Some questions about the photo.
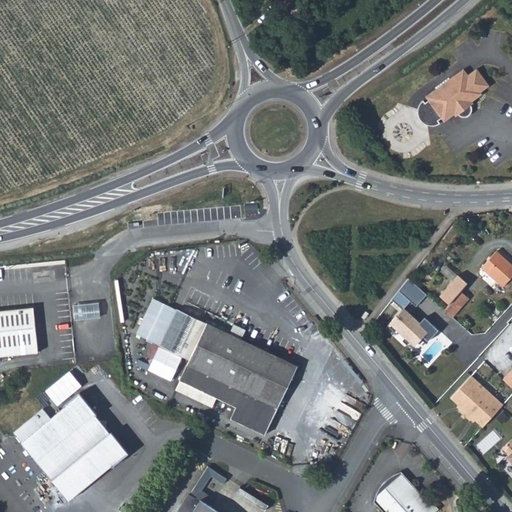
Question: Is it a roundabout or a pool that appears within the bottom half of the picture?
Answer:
pool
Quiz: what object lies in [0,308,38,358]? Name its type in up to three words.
building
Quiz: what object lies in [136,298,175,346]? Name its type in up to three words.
greenhouse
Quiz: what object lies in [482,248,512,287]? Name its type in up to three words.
house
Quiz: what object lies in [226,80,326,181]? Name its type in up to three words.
roundabout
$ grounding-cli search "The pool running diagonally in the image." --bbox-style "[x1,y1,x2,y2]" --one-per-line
[417,332,453,368]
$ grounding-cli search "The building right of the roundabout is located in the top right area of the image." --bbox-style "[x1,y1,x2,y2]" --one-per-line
[418,68,490,126]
